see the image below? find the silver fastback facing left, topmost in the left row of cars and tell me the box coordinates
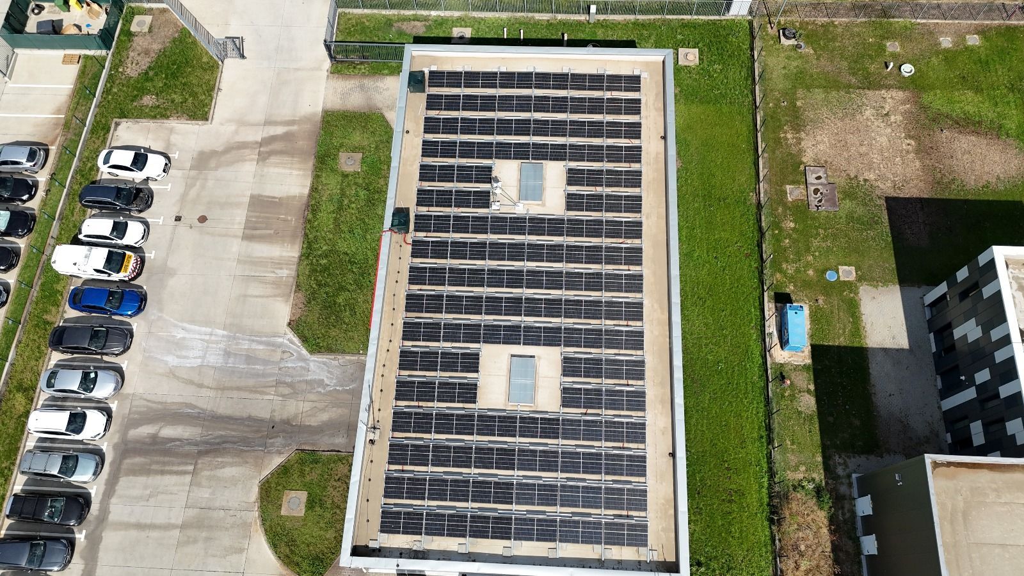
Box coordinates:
[0,145,49,176]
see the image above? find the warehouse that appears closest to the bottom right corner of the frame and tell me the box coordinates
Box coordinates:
[849,452,1024,576]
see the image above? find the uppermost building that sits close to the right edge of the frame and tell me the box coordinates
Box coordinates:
[924,245,1024,456]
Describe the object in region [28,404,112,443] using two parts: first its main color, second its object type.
white car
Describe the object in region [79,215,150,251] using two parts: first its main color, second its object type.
white car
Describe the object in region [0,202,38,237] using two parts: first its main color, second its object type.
black car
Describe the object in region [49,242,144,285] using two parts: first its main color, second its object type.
white van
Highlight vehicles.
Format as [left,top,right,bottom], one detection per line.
[47,320,134,359]
[96,145,172,181]
[49,242,144,285]
[6,489,92,531]
[39,363,124,401]
[79,215,150,251]
[0,171,39,206]
[67,281,148,317]
[81,174,154,216]
[28,404,112,443]
[0,532,76,576]
[0,202,38,237]
[20,443,105,484]
[0,145,49,176]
